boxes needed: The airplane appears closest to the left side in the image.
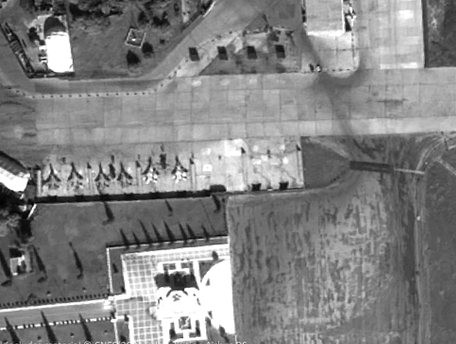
[46,171,60,195]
